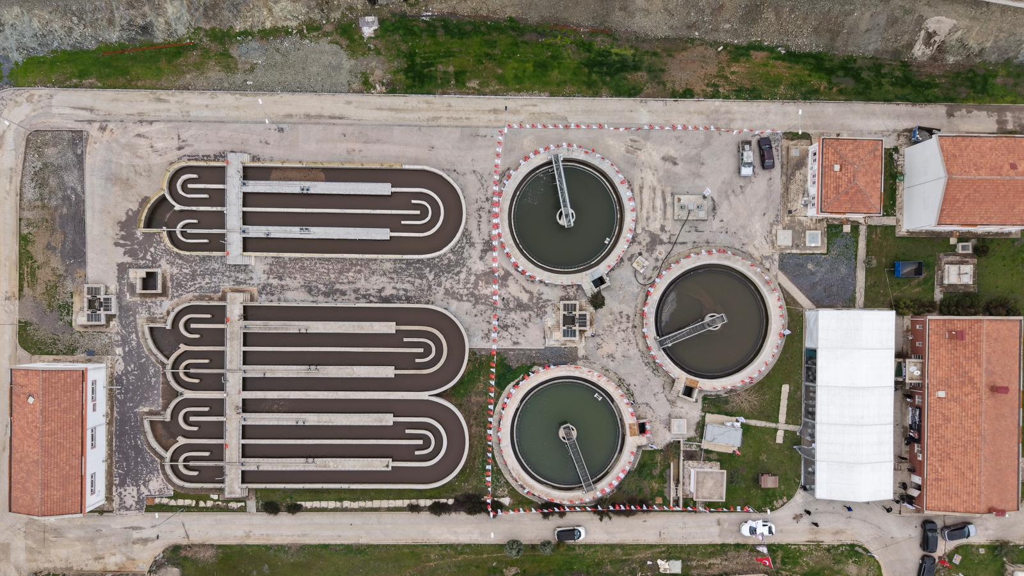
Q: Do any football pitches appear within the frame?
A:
No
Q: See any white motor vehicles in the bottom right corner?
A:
Yes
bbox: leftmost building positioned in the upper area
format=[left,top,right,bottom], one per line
[808,138,884,216]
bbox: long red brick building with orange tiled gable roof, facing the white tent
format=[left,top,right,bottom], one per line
[901,315,1022,517]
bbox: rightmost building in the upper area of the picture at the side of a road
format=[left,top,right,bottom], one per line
[904,134,1024,230]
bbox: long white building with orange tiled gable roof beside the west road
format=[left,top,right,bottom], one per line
[2,366,109,519]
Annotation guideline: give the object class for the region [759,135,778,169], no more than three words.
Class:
car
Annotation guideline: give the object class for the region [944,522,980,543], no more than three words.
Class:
car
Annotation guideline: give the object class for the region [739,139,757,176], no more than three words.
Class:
vehicle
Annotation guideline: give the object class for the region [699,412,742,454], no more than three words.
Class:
shed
